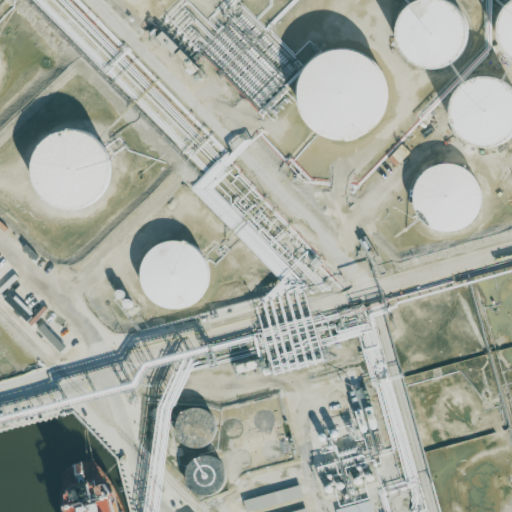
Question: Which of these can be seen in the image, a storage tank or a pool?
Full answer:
It is a storage tank that can be seen here.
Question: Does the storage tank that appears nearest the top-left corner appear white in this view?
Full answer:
Yes, the storage tank that appears nearest the top-left corner is indeed white.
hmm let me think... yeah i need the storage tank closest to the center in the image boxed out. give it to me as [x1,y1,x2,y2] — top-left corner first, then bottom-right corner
[140,240,212,311]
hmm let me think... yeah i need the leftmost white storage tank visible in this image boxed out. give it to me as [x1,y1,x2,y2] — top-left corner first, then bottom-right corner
[30,129,114,212]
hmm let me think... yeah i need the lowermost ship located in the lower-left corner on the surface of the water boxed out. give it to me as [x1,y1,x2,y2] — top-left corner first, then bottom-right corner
[60,460,124,512]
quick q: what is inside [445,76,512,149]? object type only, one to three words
storage tank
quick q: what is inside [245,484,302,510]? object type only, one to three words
building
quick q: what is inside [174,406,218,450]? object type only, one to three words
storage tank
